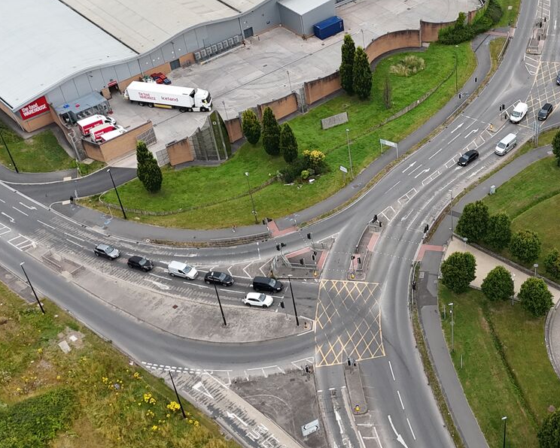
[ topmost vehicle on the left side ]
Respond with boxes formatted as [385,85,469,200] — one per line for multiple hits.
[121,75,216,113]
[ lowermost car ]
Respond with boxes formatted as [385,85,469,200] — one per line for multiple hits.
[239,288,275,307]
